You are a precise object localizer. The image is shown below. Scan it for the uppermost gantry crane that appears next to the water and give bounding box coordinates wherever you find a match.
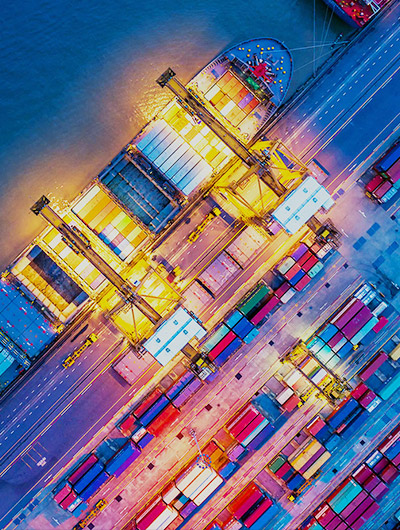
[156,67,347,243]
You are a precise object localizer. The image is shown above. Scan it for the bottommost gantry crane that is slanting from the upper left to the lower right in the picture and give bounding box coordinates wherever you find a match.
[29,195,220,372]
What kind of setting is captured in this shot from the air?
port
